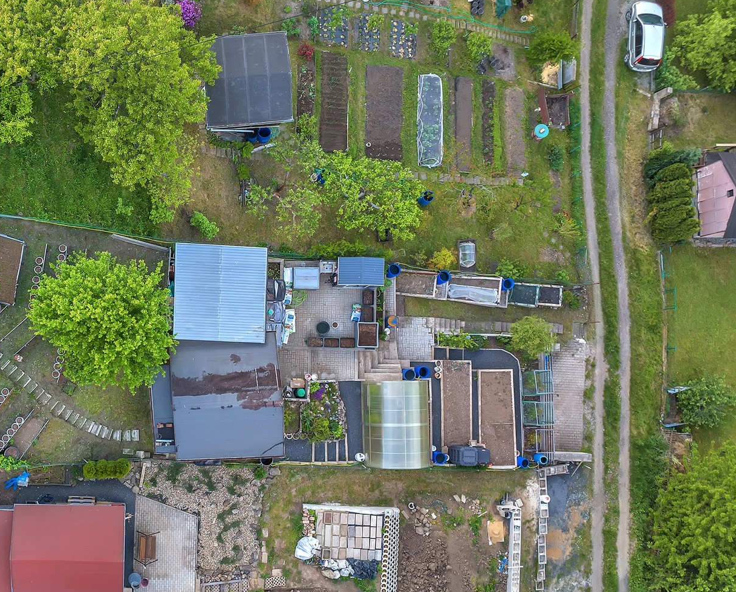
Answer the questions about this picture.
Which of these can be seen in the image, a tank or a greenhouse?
greenhouse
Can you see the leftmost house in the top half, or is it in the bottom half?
bottom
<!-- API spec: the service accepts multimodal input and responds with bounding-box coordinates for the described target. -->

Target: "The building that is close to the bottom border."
[0,499,125,592]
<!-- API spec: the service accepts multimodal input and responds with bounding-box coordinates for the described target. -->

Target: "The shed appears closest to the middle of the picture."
[332,256,384,287]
